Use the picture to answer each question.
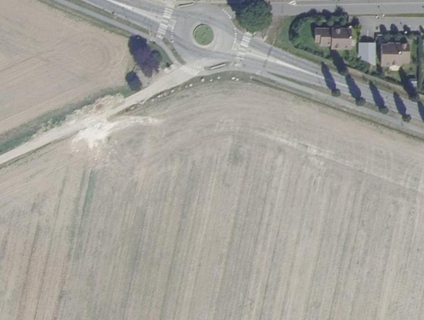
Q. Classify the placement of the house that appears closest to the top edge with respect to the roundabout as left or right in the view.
right of it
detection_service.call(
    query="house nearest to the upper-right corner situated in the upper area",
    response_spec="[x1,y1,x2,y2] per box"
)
[382,42,410,68]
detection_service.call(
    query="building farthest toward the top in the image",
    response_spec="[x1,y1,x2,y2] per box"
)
[314,26,352,50]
